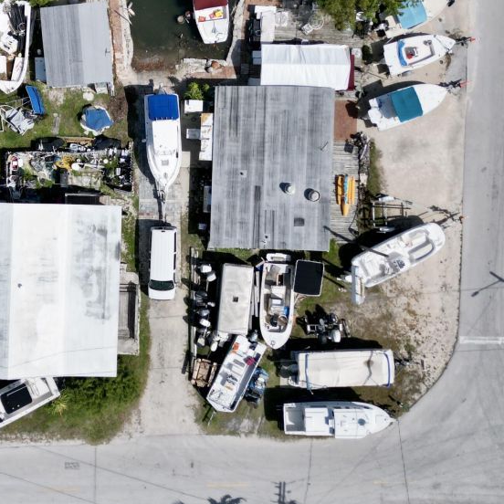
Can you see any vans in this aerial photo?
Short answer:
Yes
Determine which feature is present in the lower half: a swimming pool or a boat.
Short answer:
boat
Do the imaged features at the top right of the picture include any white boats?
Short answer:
Yes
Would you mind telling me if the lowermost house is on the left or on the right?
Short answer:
left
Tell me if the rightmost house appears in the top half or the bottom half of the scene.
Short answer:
top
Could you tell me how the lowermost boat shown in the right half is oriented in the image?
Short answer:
horizontally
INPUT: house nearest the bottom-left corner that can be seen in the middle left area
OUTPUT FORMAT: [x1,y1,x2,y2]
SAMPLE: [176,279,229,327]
[0,203,121,381]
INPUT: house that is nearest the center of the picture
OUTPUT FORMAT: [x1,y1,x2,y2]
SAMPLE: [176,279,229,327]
[209,86,335,251]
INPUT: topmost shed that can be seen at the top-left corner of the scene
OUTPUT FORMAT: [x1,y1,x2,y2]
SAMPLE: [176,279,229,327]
[39,1,113,87]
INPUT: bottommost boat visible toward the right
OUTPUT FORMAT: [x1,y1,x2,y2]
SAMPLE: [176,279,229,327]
[280,400,403,443]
